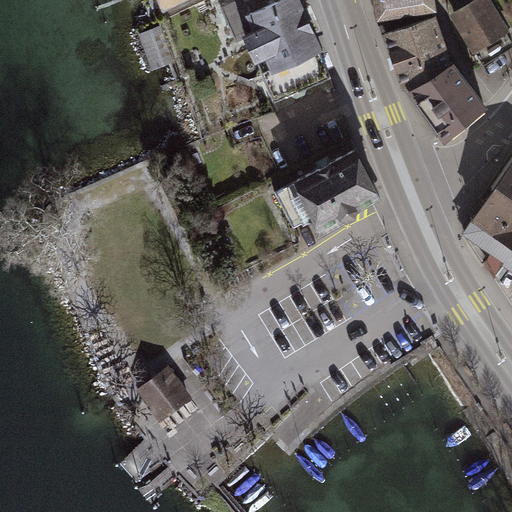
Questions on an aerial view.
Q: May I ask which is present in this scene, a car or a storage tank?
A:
car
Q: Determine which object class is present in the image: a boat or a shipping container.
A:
boat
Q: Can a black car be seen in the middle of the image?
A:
Yes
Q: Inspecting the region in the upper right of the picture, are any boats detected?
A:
No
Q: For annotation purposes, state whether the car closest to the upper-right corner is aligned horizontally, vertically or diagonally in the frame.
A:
diagonally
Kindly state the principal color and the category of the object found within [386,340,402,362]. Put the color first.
gray car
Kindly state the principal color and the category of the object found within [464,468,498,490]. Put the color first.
blue boat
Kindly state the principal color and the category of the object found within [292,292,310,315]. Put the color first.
black car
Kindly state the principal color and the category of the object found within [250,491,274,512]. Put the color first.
white boat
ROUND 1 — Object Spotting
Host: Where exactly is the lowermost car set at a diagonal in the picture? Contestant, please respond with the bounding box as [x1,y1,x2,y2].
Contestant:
[332,371,350,395]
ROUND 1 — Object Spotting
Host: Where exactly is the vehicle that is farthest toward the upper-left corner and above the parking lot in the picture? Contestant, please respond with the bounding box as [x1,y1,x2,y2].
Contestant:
[233,126,255,139]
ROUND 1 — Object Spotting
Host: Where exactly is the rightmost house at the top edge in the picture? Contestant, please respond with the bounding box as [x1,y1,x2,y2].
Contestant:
[450,0,510,65]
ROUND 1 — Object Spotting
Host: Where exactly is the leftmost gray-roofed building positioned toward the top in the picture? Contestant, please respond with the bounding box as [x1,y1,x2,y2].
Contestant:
[139,25,174,70]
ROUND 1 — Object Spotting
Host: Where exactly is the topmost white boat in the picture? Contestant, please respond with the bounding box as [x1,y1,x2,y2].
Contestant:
[442,426,472,452]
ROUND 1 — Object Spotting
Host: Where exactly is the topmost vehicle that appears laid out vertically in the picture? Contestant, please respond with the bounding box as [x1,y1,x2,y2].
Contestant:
[350,76,363,100]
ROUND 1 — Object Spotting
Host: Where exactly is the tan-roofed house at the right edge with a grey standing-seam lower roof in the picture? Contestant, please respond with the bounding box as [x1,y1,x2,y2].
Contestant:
[464,160,512,270]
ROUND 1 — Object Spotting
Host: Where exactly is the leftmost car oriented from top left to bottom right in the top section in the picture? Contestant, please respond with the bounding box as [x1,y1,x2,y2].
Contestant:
[270,148,288,169]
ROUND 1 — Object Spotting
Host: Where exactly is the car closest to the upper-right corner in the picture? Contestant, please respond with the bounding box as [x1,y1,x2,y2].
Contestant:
[486,54,509,74]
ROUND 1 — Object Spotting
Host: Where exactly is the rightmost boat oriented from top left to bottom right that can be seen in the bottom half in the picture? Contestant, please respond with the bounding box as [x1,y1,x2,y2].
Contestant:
[342,414,366,449]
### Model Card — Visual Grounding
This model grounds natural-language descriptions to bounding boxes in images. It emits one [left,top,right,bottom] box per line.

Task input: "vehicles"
[332,371,350,395]
[374,345,391,366]
[400,291,424,309]
[306,314,325,338]
[273,307,290,328]
[346,324,370,341]
[344,262,363,286]
[300,226,316,249]
[358,284,376,308]
[379,274,396,296]
[329,303,346,324]
[386,340,402,362]
[486,54,509,74]
[327,119,344,144]
[314,282,333,306]
[396,330,413,351]
[350,76,363,100]
[358,350,377,372]
[320,312,337,334]
[270,148,288,169]
[233,126,255,139]
[406,322,422,344]
[367,125,382,149]
[292,292,310,315]
[276,336,294,358]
